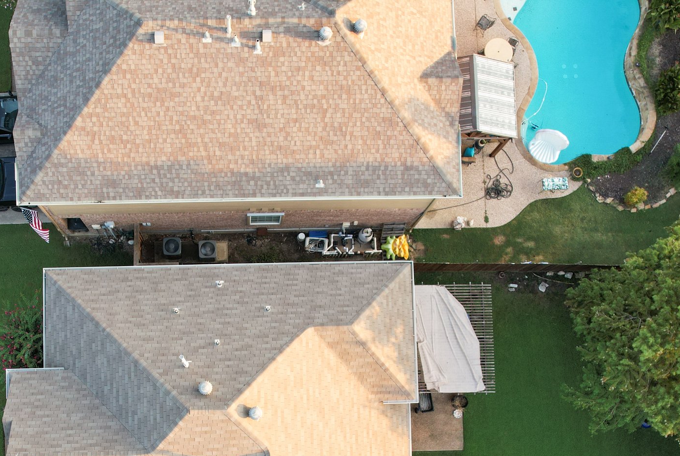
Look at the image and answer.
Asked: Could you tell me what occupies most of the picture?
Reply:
buildings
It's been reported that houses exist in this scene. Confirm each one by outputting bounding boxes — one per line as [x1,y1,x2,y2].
[8,0,464,255]
[2,258,420,456]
